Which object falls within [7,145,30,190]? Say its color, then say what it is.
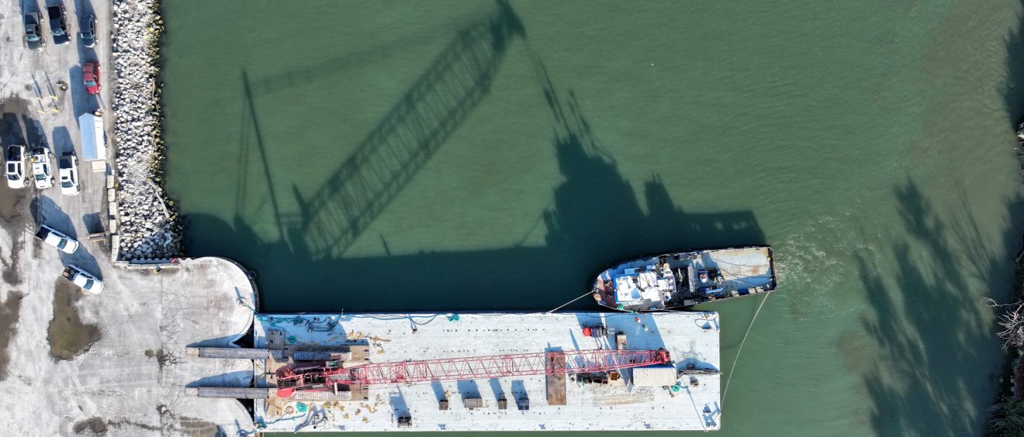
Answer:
white truck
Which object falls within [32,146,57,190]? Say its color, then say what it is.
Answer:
white truck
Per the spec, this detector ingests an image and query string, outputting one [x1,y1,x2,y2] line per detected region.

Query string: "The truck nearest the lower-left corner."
[60,262,107,294]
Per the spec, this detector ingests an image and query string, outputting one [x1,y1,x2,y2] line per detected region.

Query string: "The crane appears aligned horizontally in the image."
[266,339,673,406]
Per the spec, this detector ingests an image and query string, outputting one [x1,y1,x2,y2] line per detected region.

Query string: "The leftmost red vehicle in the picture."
[83,60,103,96]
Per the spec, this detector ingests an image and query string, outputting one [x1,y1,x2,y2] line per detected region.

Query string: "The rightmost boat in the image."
[591,244,777,312]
